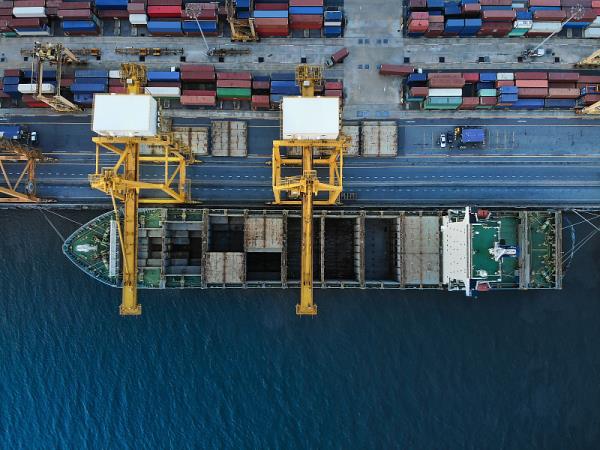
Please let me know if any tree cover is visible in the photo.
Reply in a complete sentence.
No, there is no tree cover in the image.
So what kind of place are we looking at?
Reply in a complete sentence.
The area seen from above is a port.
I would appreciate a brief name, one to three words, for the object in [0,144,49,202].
container crane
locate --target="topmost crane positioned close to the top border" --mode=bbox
[223,0,257,41]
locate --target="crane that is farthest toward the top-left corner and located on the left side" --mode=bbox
[32,40,83,112]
